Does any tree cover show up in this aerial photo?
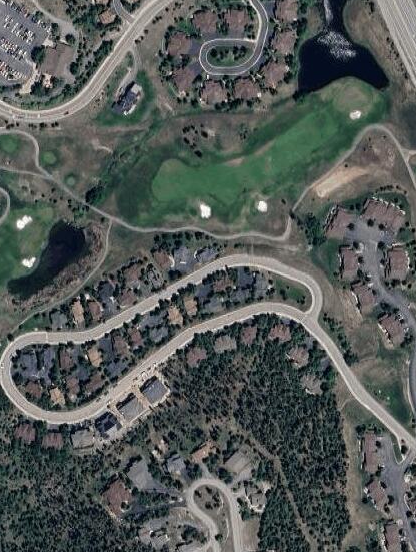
Yes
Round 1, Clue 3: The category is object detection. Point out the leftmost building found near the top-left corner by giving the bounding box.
[43,46,75,80]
